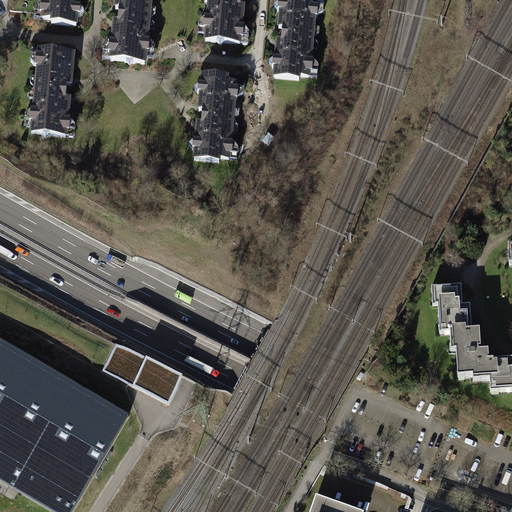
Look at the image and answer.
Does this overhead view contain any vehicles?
Yes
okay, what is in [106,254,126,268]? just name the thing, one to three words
vehicle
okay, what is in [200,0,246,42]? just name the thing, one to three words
house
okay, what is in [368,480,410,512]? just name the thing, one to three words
building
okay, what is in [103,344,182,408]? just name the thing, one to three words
building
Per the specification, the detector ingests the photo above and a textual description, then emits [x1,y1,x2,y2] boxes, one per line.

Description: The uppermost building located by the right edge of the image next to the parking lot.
[430,282,512,395]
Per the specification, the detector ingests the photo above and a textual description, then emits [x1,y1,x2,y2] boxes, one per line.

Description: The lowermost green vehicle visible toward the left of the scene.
[174,291,193,306]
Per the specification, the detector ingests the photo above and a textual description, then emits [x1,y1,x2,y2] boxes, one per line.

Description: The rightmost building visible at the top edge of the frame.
[268,0,320,79]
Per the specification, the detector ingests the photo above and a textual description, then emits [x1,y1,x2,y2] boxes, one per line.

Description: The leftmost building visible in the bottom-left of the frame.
[0,338,130,512]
